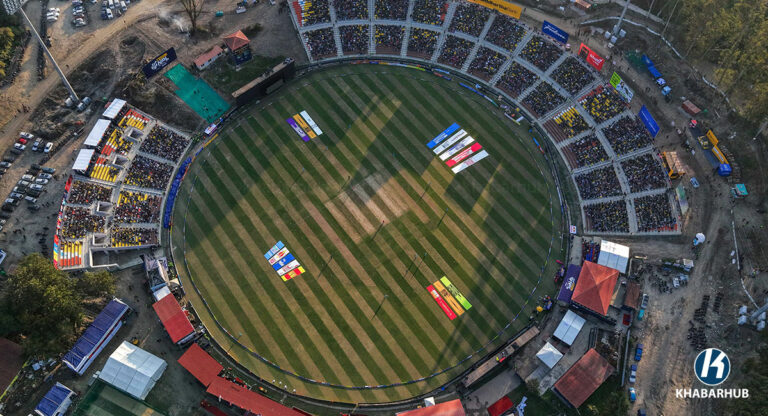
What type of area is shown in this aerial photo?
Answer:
sports ground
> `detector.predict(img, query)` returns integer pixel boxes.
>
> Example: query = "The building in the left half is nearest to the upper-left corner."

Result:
[194,45,224,71]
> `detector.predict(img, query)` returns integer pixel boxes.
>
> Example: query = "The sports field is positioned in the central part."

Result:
[171,61,570,403]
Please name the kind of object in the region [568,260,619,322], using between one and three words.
building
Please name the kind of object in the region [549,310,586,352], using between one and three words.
tent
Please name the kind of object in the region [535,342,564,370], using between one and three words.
gazebo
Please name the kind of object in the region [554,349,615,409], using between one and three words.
building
